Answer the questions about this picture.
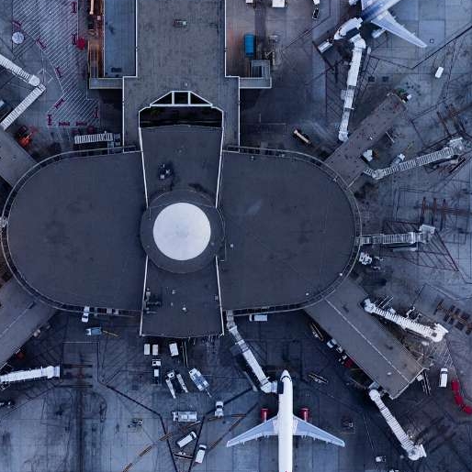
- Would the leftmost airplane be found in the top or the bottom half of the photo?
bottom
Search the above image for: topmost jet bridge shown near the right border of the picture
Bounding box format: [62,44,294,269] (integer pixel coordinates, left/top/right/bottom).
[362,135,464,180]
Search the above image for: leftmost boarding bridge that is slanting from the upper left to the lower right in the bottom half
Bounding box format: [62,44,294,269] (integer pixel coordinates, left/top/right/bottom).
[225,313,284,391]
